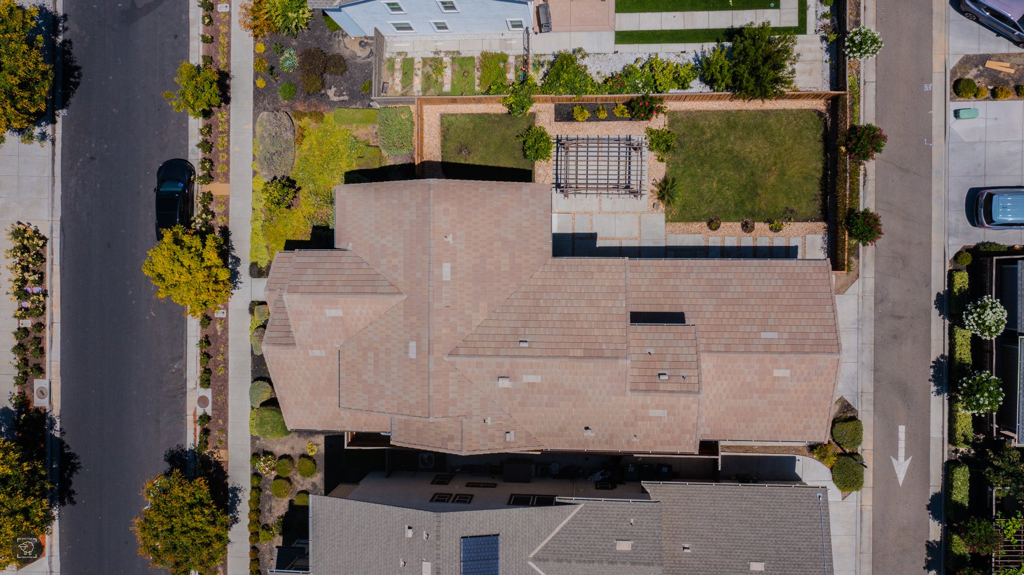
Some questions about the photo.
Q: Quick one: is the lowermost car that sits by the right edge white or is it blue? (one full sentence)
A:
The lowermost car that sits by the right edge looks blue in the image.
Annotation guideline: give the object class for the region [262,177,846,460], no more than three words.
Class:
house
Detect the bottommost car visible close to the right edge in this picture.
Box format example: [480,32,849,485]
[972,187,1024,228]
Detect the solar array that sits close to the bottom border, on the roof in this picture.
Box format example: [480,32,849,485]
[463,530,500,575]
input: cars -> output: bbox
[153,158,200,246]
[955,0,1024,54]
[972,187,1024,228]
